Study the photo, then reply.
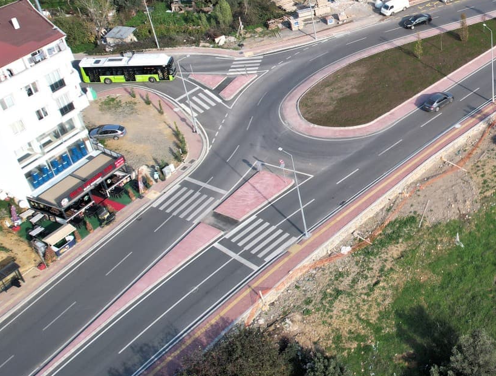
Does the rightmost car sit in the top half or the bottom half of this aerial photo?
top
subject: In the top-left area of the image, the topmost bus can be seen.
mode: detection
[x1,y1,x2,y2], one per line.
[79,51,174,82]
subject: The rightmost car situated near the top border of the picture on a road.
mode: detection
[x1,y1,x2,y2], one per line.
[403,11,432,27]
